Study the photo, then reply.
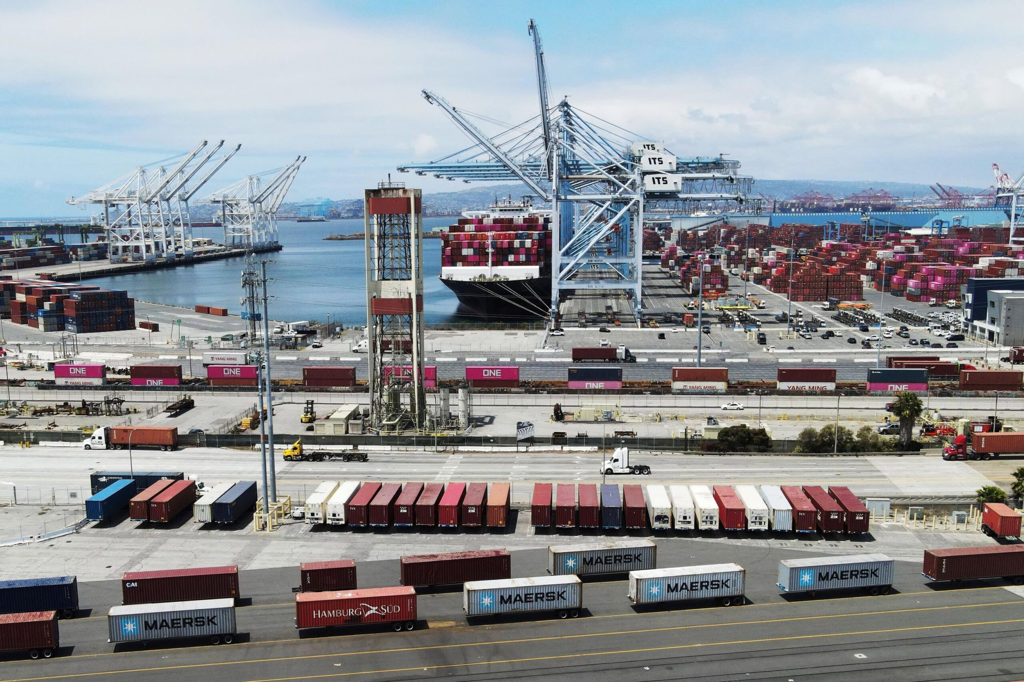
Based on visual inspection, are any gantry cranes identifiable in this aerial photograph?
Yes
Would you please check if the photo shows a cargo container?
Yes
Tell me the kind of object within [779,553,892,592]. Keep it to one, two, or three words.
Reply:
shipping container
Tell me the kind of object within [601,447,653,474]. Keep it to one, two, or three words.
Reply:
truck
